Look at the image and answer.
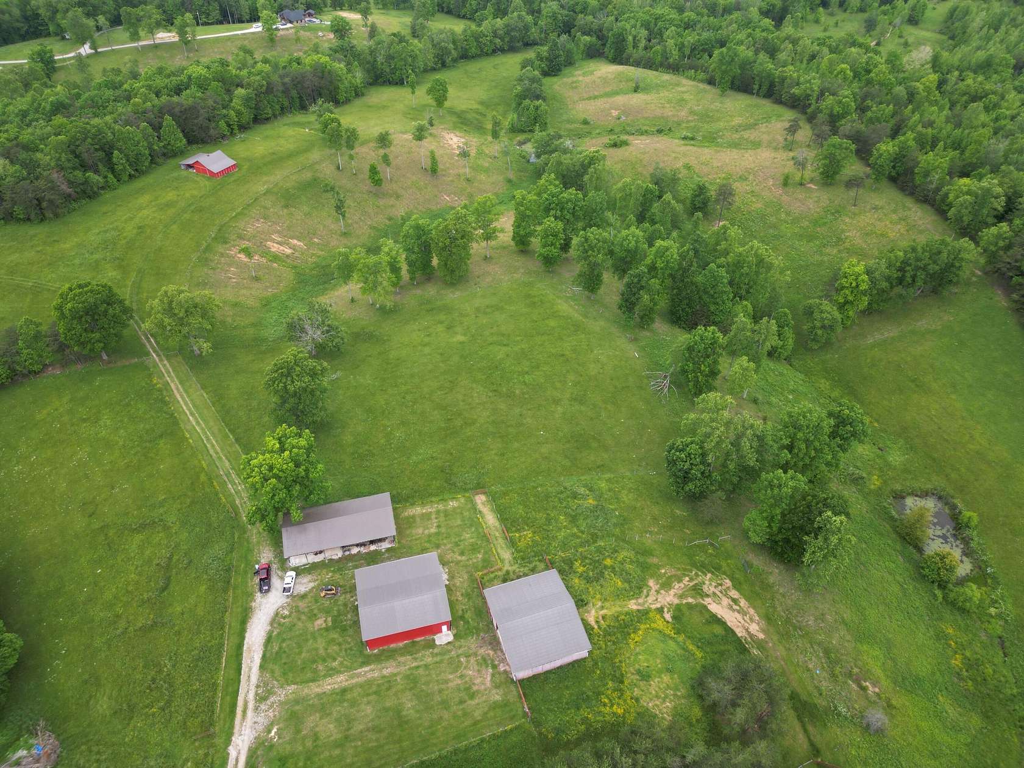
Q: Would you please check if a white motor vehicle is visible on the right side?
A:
No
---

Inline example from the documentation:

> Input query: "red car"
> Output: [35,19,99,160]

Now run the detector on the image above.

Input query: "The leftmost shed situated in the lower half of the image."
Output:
[281,490,396,567]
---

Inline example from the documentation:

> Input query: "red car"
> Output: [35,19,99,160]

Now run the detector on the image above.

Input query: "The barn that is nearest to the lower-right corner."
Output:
[482,568,593,680]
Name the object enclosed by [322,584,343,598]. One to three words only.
work vehicle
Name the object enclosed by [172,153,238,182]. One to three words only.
barn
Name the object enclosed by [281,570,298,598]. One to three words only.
vehicle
